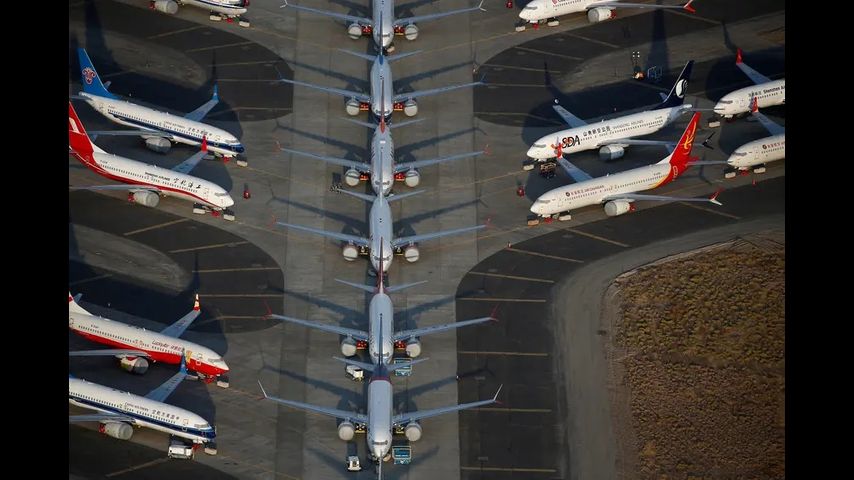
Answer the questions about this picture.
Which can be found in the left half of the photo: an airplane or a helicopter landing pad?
airplane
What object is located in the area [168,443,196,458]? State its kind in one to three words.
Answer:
vehicle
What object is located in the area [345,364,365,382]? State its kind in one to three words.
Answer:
vehicle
